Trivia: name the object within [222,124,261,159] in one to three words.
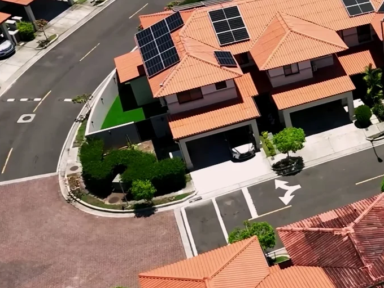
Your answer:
car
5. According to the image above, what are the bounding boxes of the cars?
[0,32,24,58]
[222,124,261,159]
